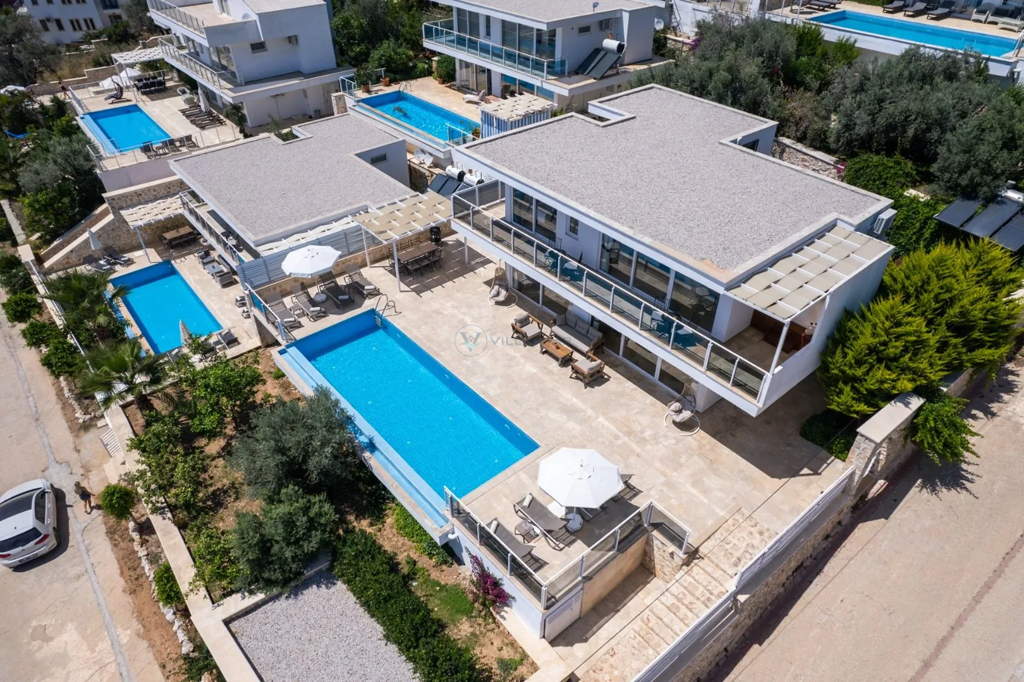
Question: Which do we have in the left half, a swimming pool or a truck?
swimming pool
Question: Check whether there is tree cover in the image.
Yes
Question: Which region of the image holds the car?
bottom left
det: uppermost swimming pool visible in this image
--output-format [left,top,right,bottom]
[817,10,1018,55]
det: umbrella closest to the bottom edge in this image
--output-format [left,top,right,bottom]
[536,442,624,530]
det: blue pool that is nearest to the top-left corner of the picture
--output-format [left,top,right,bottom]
[77,105,175,153]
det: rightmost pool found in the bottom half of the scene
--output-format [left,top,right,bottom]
[269,309,540,548]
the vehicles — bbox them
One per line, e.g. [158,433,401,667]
[0,476,60,565]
